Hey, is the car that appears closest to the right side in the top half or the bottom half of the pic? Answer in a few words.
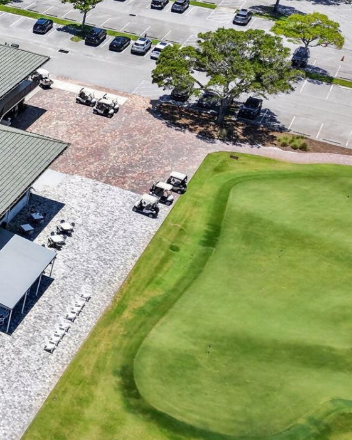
top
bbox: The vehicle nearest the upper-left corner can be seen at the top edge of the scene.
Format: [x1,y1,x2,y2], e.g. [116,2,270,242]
[29,15,54,34]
